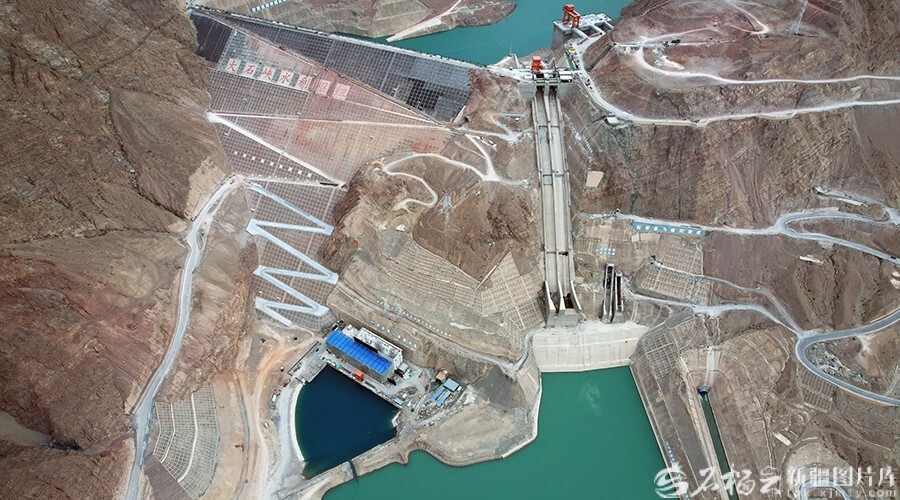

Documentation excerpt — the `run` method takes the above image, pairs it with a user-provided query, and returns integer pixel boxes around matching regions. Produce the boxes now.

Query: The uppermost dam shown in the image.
[186,4,530,334]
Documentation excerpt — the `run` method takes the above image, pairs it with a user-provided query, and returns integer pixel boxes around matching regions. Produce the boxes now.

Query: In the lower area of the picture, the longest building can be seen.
[325,326,403,382]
